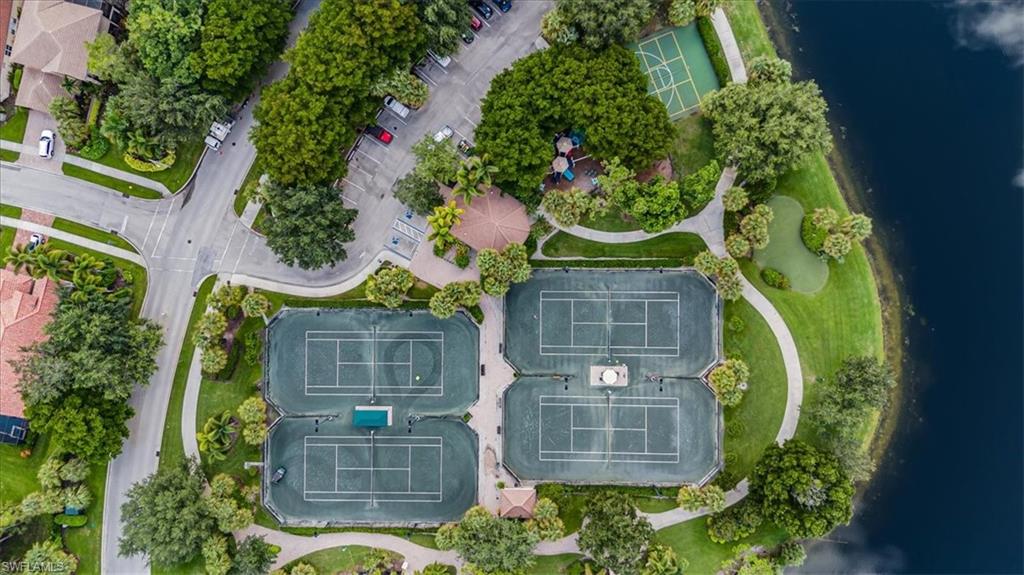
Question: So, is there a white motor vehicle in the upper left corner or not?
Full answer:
Yes, you'll find a white motor vehicle in the upper left corner.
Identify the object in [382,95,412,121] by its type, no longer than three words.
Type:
vehicle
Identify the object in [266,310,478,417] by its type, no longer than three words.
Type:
tennis court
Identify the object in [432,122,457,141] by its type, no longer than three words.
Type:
car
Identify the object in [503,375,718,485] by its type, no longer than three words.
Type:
tennis court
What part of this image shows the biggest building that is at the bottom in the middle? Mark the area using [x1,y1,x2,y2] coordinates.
[500,484,537,518]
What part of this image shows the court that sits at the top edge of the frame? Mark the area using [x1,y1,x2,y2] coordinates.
[624,22,719,122]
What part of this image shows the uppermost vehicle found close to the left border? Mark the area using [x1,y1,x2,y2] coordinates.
[37,130,56,159]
